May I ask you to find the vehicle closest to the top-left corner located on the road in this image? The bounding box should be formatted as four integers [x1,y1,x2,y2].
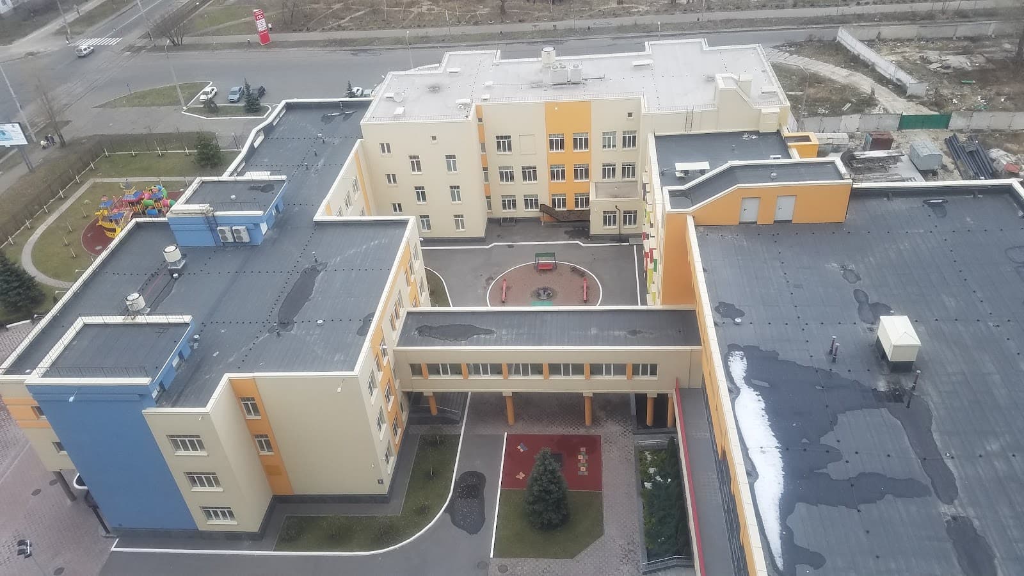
[72,43,94,56]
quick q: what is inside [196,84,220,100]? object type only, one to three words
car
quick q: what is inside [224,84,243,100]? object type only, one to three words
car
